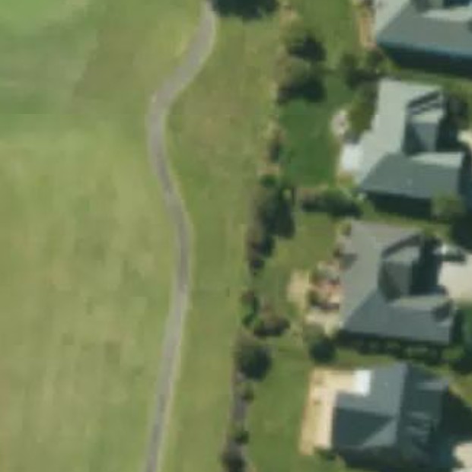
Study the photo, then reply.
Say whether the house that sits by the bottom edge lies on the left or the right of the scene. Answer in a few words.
right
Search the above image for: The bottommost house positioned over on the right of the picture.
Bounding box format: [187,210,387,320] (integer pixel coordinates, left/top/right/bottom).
[325,361,443,466]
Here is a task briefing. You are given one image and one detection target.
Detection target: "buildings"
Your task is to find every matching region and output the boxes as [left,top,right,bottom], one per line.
[325,361,443,466]
[353,82,468,208]
[375,0,472,63]
[336,222,454,351]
